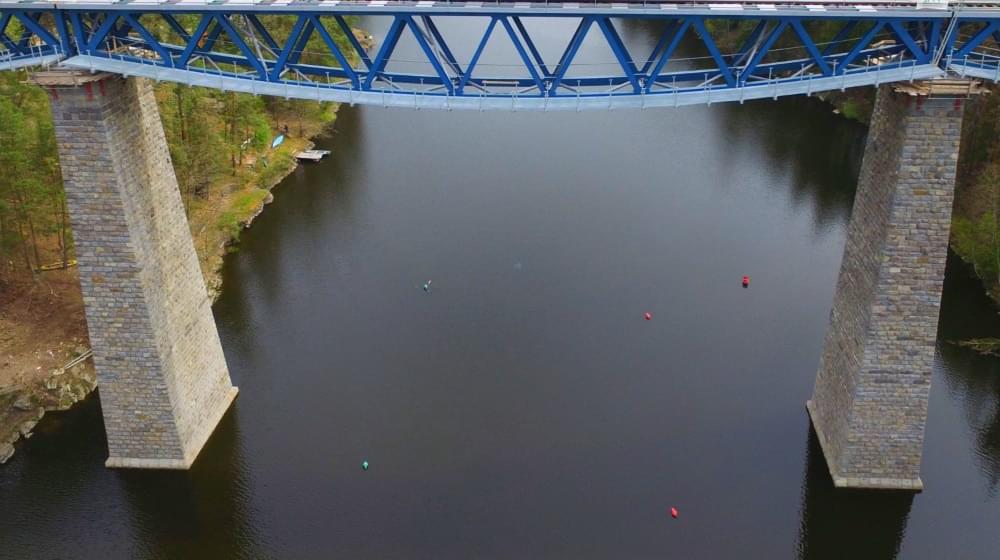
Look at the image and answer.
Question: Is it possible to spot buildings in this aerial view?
No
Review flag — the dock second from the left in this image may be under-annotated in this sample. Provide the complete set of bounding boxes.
[294,150,333,162]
